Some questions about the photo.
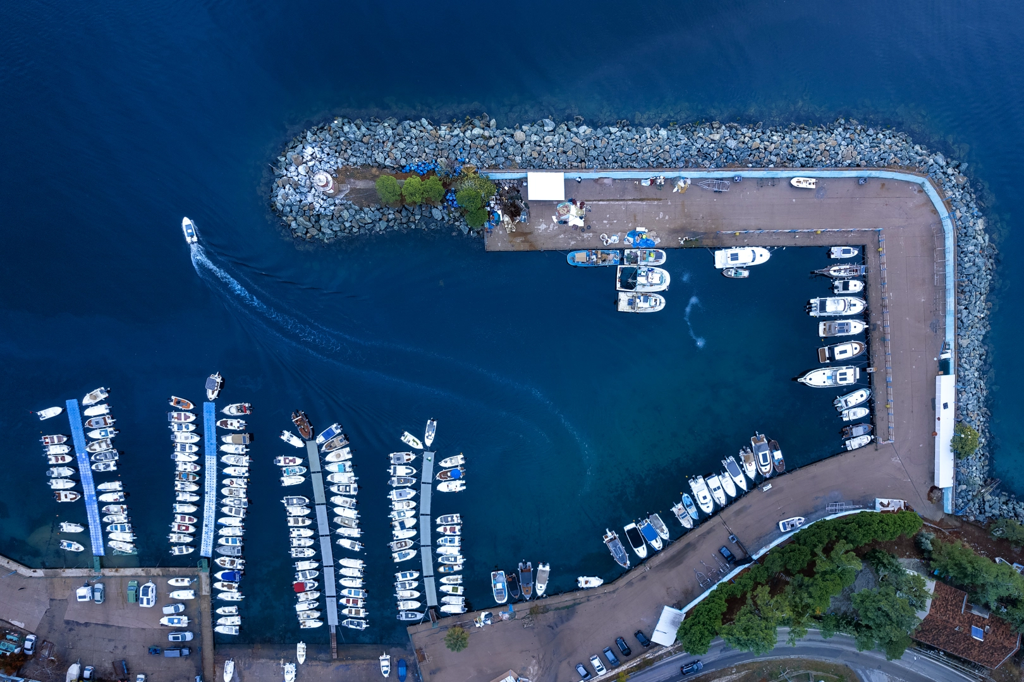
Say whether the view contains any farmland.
No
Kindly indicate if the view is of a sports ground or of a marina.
marina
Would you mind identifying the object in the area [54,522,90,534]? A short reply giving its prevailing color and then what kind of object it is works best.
white boat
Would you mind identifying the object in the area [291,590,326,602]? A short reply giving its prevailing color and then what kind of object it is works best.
white boat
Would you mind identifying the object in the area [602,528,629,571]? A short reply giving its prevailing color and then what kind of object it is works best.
blue boat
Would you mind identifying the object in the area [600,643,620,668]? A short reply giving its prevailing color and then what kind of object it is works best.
blue car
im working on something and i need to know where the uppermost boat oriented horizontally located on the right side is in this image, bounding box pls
[790,177,822,189]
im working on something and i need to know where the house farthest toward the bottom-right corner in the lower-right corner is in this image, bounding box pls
[900,570,1019,670]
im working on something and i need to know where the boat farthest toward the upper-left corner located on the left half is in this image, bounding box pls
[183,217,198,249]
